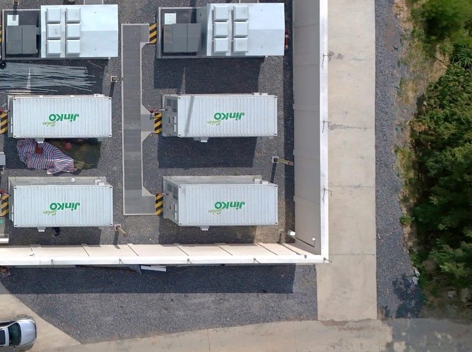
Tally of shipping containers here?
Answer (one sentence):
My tally gives 4 shipping containers in this view.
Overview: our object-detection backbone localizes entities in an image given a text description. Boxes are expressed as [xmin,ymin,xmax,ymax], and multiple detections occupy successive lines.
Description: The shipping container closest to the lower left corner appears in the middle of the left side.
[6,174,113,232]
